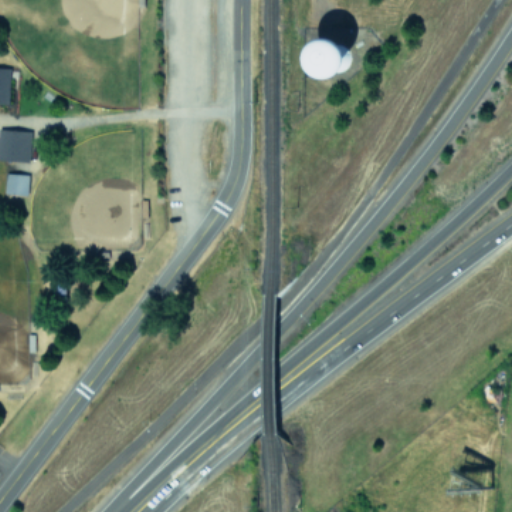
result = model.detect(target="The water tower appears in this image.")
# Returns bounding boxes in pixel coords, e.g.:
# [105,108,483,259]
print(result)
[300,38,354,79]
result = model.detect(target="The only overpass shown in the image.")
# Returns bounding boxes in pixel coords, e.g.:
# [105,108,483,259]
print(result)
[248,276,302,445]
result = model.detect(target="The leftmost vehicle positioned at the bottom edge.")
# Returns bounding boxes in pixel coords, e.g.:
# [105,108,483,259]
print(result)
[144,480,179,508]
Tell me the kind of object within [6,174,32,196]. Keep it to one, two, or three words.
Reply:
shed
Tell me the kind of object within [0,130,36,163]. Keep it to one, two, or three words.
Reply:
house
